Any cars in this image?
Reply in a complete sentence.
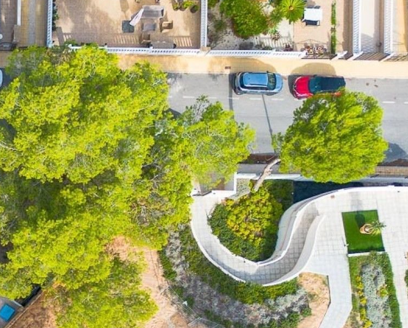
Yes, the image includes a car.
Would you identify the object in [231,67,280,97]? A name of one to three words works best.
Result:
car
